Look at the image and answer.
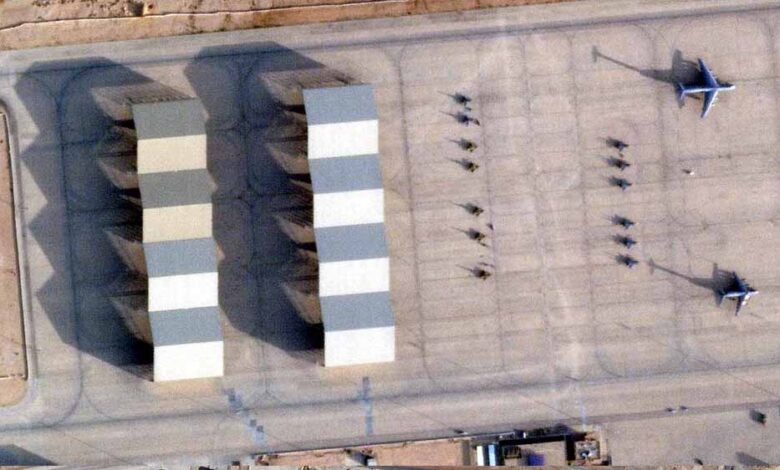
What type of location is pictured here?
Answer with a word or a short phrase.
airport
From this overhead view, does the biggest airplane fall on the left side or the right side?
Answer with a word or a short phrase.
right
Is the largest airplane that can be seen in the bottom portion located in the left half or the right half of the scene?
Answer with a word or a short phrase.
right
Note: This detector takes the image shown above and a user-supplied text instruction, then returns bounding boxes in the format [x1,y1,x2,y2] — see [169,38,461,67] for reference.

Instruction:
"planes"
[617,161,633,171]
[463,142,479,153]
[459,115,475,126]
[679,61,735,120]
[719,273,758,316]
[465,163,481,174]
[615,142,631,152]
[622,219,637,230]
[458,95,473,106]
[471,232,486,243]
[469,207,485,218]
[625,257,641,268]
[623,238,639,249]
[619,179,634,190]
